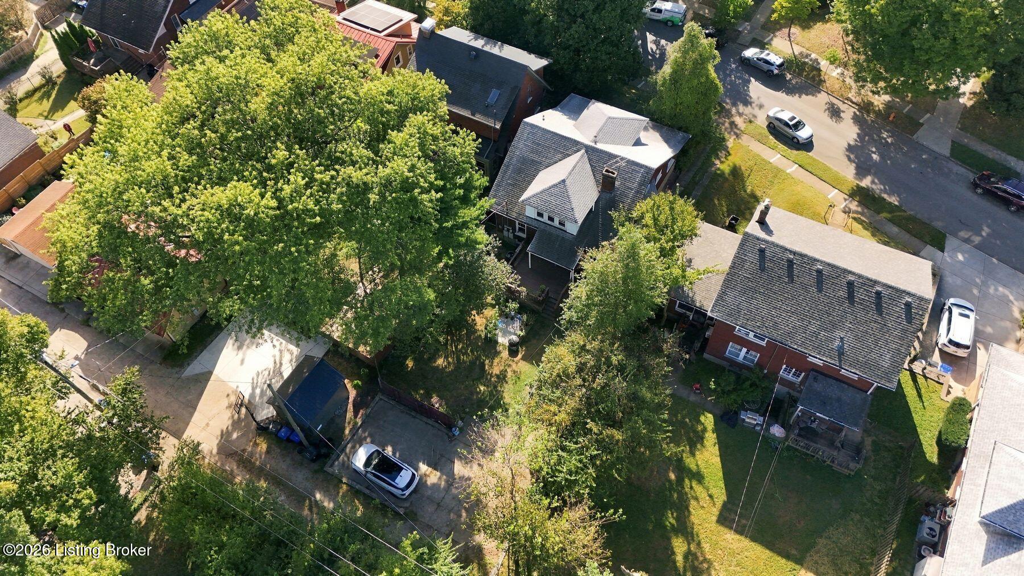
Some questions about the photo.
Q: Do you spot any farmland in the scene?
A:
No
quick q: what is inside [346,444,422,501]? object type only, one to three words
car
